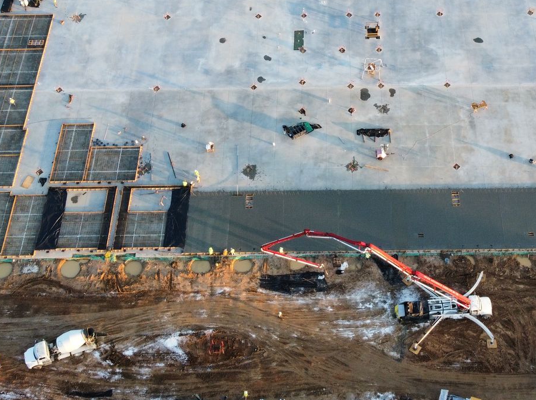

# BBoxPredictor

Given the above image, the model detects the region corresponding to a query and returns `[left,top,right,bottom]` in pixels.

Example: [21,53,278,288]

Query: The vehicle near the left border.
[21,331,101,370]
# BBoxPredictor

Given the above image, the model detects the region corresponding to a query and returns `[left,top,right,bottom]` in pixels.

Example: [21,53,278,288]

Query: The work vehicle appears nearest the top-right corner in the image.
[365,21,379,40]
